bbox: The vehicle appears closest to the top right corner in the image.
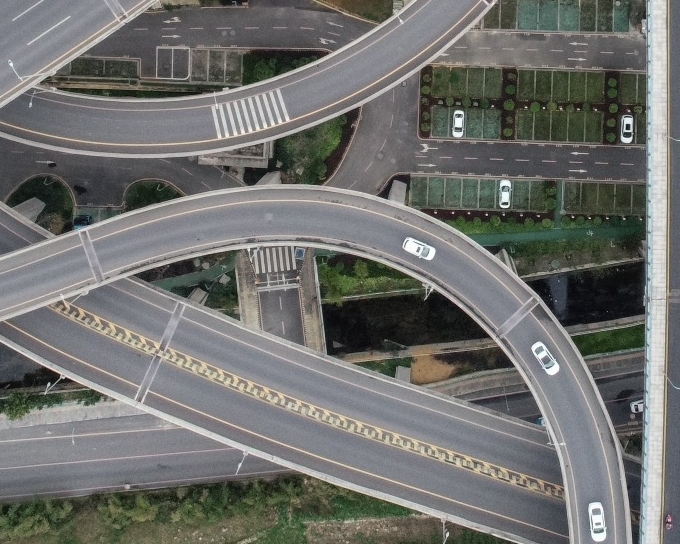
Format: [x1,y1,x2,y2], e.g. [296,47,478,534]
[621,115,634,143]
